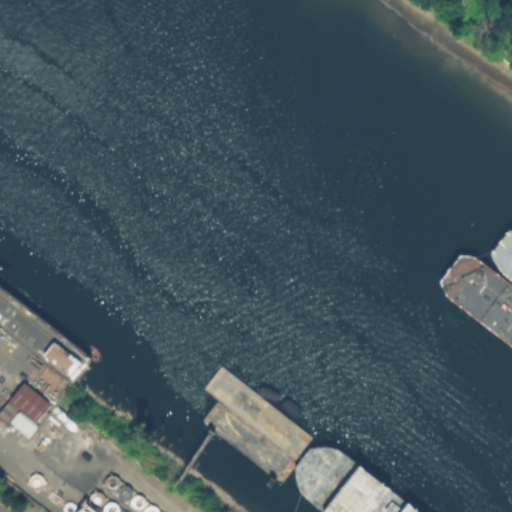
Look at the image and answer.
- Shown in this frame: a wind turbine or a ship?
ship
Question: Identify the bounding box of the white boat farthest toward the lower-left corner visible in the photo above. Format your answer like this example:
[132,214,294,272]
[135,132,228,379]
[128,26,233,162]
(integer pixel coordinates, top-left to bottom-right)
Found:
[53,406,79,432]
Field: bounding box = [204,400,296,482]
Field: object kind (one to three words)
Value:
ship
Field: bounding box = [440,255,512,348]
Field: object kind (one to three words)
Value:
ship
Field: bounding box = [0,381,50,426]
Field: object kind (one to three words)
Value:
building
